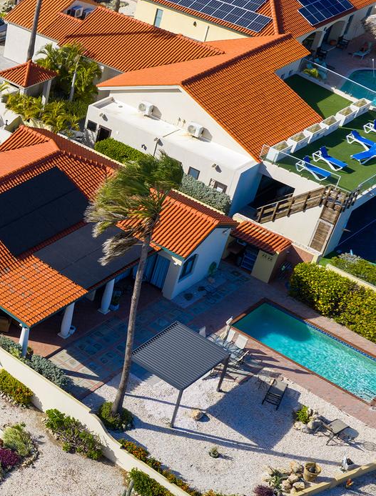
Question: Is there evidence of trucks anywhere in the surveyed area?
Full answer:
No, there is no truck in the image.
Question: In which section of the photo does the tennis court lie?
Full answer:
You can find the tennis court in the right area of the picture.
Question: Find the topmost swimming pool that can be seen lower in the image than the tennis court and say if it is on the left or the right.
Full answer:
The topmost swimming pool that can be seen lower in the image than the tennis court is on the right side of the image.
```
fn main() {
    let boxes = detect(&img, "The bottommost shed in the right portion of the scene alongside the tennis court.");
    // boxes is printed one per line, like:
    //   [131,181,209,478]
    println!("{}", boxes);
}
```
[229,217,292,283]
